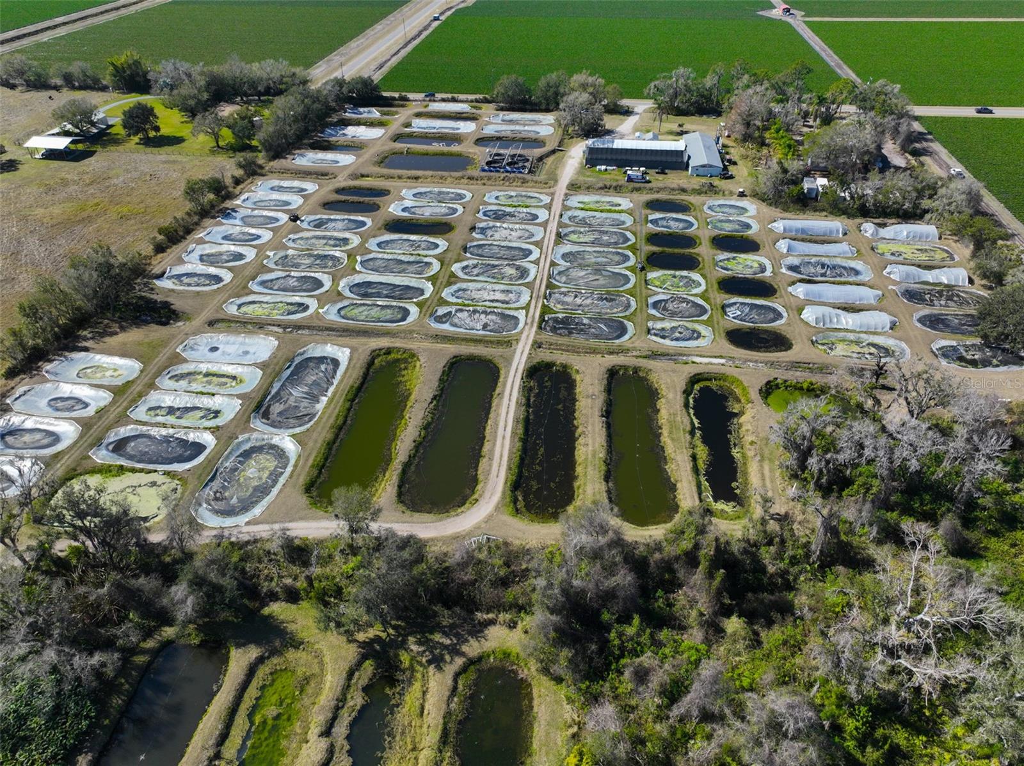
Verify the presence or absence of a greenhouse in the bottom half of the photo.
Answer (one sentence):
No, there is no greenhouse in the bottom half of the photo.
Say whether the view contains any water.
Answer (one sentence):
Yes, some water is visible.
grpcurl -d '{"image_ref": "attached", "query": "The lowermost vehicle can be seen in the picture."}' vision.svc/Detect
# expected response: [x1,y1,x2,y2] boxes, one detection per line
[635,257,647,270]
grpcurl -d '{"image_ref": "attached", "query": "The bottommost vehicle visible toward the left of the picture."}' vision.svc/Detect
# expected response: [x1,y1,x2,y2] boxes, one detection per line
[286,210,301,222]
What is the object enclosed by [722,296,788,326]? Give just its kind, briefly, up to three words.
pond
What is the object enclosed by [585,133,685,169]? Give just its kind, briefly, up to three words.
greenhouse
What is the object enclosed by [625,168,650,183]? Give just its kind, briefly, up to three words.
vehicle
